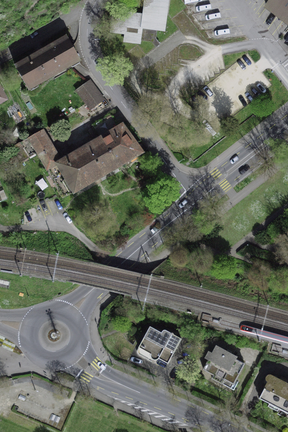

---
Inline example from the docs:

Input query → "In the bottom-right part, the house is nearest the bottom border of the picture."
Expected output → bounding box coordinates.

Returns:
[260,374,288,419]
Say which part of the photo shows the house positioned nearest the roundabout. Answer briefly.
bottom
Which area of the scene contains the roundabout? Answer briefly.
bottom left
